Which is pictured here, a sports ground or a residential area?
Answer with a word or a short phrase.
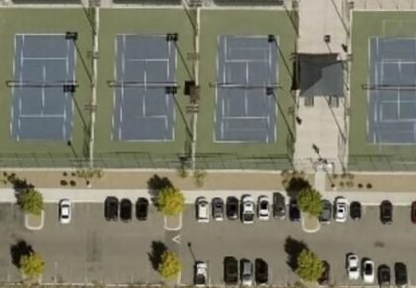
sports ground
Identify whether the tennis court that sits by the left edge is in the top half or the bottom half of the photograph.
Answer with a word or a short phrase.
top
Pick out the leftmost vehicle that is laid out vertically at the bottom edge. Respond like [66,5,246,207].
[195,260,208,287]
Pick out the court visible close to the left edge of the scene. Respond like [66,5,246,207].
[0,9,95,167]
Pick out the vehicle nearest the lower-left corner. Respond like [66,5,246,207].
[59,201,71,223]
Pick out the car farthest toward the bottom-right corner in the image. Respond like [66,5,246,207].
[395,263,408,286]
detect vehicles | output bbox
[256,260,269,283]
[320,202,332,225]
[242,197,255,223]
[106,198,119,221]
[195,260,208,287]
[59,201,71,223]
[197,201,209,221]
[227,198,240,221]
[346,255,359,279]
[212,200,224,220]
[380,201,392,224]
[318,262,329,284]
[411,202,416,224]
[335,199,347,222]
[362,260,374,283]
[378,264,390,287]
[120,200,133,222]
[136,198,149,222]
[273,196,286,219]
[289,200,301,223]
[395,263,408,286]
[349,201,361,222]
[241,261,253,284]
[225,259,238,283]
